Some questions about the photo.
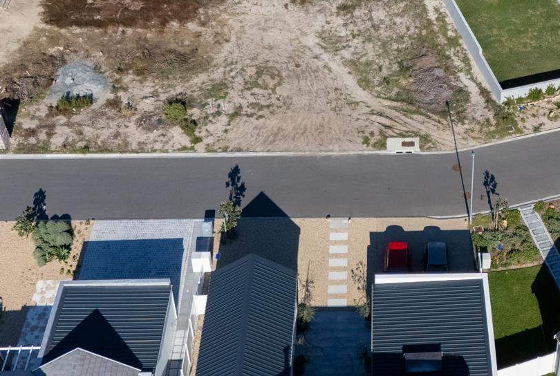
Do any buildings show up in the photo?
Yes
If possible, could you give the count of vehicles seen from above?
two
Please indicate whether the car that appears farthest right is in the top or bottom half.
bottom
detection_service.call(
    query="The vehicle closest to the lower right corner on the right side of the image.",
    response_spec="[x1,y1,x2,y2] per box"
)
[421,245,451,274]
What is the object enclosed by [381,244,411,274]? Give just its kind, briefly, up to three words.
car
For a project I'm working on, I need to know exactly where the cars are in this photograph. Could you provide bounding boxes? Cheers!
[421,245,451,274]
[381,244,411,274]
